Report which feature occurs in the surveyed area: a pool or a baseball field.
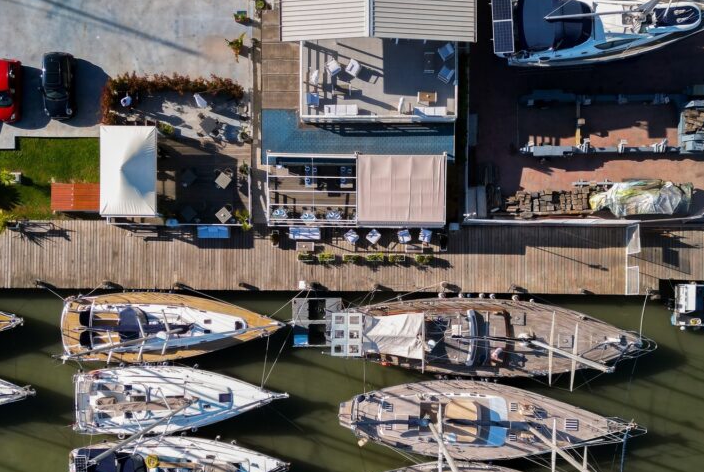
pool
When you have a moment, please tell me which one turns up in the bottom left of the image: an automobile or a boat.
boat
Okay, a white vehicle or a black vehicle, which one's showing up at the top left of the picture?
black vehicle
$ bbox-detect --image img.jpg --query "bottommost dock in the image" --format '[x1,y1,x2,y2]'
[292,296,349,347]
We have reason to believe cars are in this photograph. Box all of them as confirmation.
[37,51,79,121]
[0,59,24,124]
